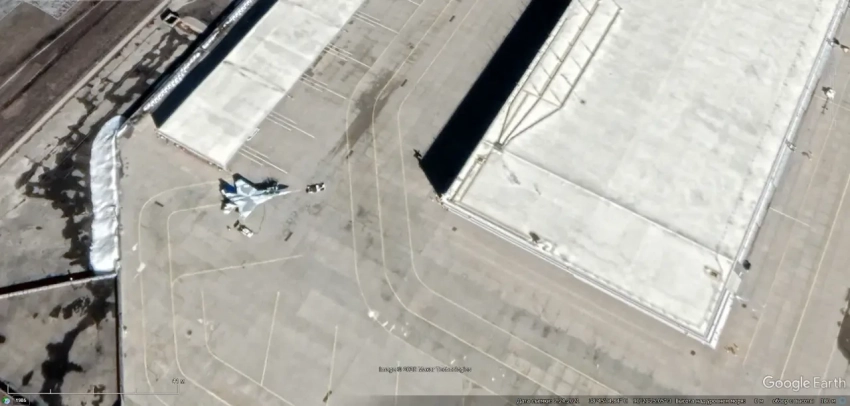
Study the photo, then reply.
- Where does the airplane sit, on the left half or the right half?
left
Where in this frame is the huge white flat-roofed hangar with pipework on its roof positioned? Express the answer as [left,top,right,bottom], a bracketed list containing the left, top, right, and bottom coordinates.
[446,0,850,345]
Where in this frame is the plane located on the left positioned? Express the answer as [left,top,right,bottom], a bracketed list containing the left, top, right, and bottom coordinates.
[221,180,293,220]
